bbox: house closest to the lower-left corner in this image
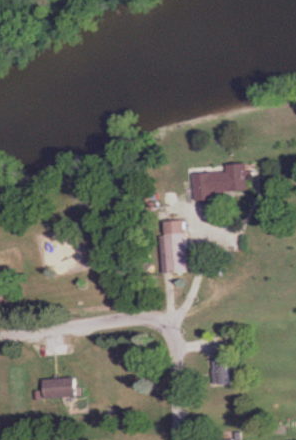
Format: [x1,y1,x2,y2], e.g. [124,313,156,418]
[34,377,79,400]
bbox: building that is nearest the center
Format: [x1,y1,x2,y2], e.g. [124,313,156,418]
[159,220,190,272]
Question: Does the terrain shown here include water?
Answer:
Yes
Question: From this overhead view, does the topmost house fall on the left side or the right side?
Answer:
right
